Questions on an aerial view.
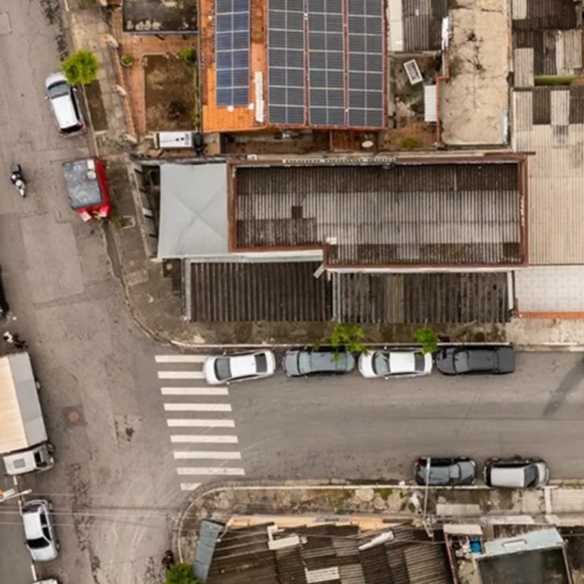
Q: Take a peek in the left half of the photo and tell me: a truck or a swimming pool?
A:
truck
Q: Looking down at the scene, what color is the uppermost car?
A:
white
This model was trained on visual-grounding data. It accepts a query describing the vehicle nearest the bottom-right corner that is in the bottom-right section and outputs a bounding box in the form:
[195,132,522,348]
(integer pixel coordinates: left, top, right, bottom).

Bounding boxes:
[483,455,550,493]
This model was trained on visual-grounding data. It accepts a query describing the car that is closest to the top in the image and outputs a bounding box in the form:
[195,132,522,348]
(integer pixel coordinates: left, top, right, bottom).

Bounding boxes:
[42,71,88,138]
